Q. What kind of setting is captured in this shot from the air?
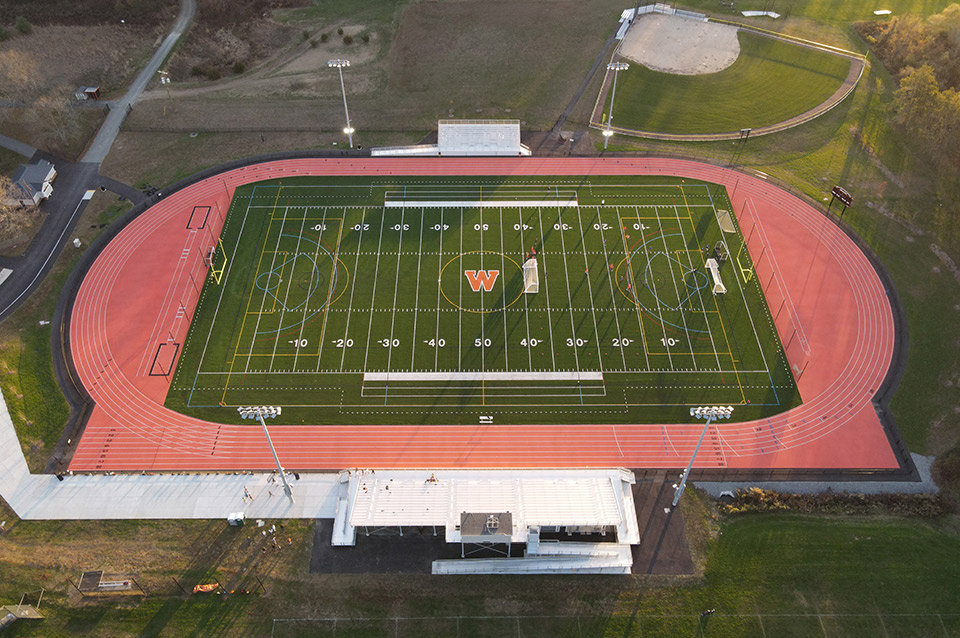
sports ground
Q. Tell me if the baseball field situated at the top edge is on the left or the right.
right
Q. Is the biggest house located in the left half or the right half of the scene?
left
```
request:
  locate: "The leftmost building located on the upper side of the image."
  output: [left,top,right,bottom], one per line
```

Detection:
[3,156,64,212]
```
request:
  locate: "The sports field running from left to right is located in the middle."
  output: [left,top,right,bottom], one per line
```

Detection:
[163,174,802,425]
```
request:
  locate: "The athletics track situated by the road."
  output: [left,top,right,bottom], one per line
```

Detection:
[68,156,899,471]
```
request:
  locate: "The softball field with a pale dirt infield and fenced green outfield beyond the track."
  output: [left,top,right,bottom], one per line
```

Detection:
[591,14,865,141]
